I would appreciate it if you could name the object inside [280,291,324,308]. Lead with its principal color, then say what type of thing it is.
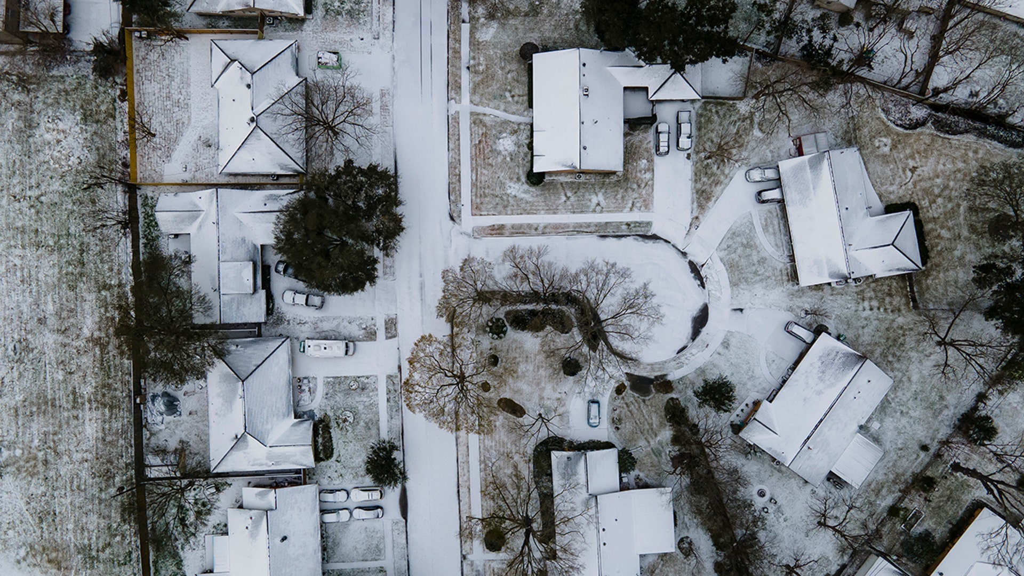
white vehicle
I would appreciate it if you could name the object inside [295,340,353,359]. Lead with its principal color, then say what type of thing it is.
white camper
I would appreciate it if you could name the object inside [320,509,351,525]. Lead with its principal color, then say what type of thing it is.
white car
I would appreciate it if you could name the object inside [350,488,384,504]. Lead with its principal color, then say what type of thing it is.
white car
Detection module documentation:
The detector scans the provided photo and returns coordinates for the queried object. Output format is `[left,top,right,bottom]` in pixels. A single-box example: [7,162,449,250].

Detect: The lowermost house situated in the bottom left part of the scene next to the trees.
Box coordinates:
[198,481,325,576]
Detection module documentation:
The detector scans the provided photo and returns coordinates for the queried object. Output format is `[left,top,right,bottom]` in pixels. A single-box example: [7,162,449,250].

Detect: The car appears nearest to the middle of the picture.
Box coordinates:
[587,399,602,430]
